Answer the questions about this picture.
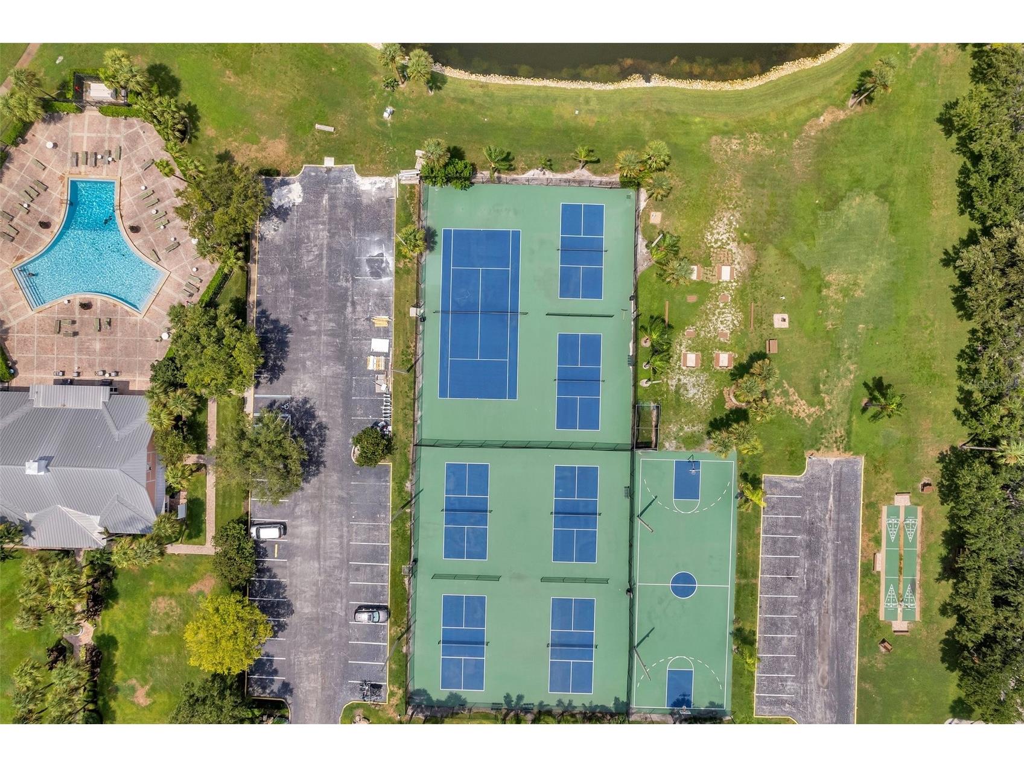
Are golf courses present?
No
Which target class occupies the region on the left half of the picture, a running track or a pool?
pool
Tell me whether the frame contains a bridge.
No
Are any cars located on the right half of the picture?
No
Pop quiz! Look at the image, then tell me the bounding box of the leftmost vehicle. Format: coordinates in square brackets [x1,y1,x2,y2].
[249,524,284,541]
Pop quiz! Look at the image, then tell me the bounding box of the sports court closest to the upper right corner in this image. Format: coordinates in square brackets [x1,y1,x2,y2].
[556,203,607,299]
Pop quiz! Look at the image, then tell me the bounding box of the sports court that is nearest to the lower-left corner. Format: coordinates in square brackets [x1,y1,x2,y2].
[437,595,489,691]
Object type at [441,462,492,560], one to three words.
sports court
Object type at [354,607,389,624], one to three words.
car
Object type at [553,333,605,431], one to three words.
sports court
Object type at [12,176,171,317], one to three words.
swimming pool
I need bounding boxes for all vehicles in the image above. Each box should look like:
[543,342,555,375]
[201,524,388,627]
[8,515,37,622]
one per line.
[354,607,389,624]
[249,524,284,541]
